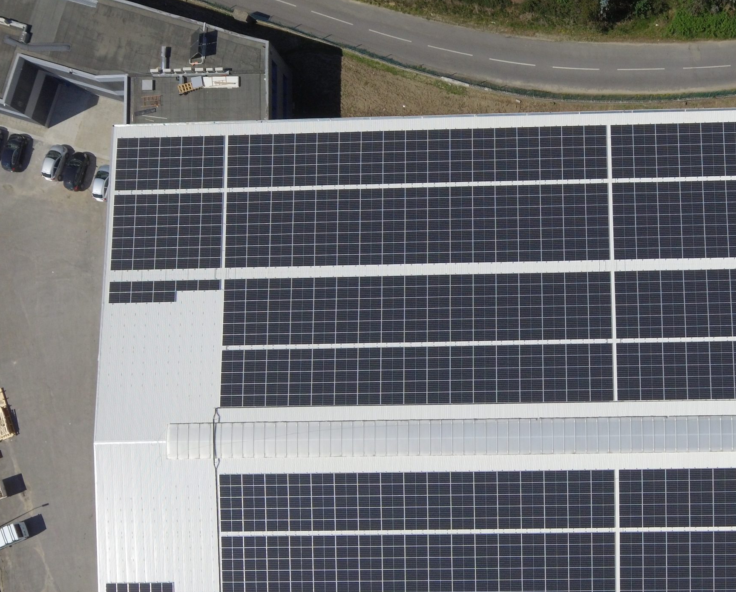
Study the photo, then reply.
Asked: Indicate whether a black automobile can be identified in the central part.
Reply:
No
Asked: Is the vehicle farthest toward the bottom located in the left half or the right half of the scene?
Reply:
left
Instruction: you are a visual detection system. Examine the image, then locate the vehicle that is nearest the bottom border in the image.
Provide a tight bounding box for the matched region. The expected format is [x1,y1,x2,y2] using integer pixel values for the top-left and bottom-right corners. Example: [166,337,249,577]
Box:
[0,523,30,549]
